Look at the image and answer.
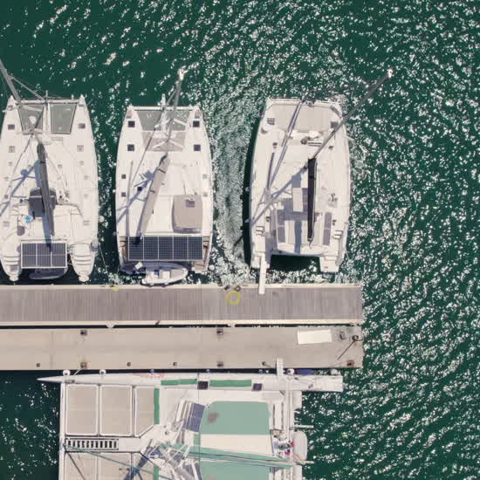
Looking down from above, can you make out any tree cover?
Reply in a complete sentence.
No, the scene doesn't show any tree cover.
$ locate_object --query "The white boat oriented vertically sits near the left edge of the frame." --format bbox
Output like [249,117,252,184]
[0,59,99,285]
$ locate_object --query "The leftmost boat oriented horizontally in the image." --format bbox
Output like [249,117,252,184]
[31,267,68,281]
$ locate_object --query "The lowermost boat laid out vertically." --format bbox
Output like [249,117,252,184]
[296,431,308,459]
